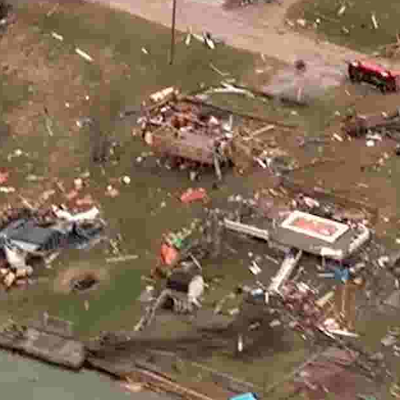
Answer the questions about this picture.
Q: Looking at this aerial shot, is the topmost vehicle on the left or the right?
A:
right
